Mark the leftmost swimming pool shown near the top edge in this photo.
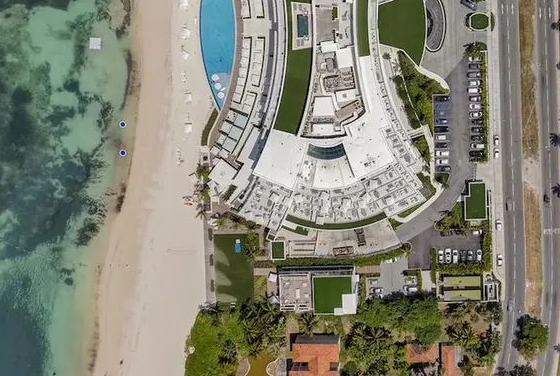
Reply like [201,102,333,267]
[198,0,236,111]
